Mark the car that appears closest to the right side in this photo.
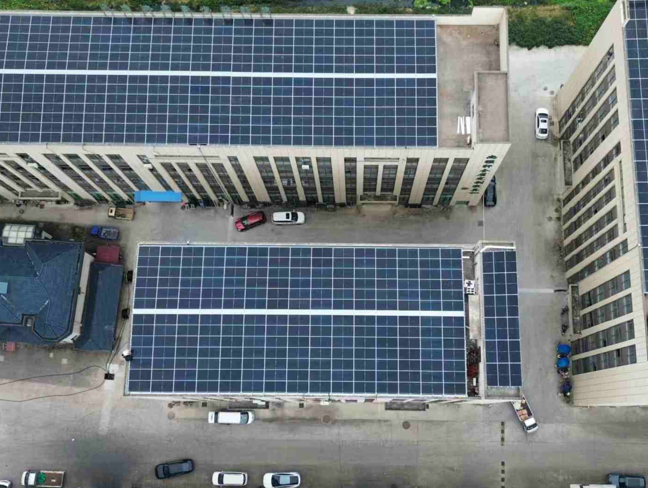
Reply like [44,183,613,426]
[607,471,647,488]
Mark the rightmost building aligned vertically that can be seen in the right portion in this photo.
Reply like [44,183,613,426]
[556,0,648,408]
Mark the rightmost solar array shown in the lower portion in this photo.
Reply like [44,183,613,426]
[483,250,521,387]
